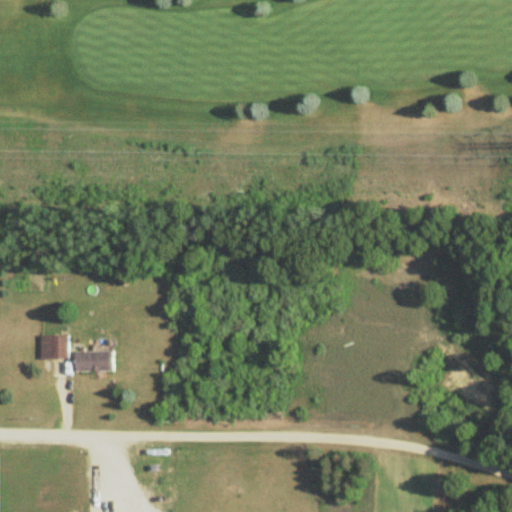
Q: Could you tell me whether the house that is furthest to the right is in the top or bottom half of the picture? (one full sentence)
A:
The house that is furthest to the right sits in the bottom half of the picture.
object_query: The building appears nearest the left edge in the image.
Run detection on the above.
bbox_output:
[41,335,70,360]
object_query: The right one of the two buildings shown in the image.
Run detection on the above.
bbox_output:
[73,352,114,378]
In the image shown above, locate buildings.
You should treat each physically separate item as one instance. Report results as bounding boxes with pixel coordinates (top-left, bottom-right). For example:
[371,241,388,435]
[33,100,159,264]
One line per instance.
[41,335,70,360]
[73,352,114,378]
